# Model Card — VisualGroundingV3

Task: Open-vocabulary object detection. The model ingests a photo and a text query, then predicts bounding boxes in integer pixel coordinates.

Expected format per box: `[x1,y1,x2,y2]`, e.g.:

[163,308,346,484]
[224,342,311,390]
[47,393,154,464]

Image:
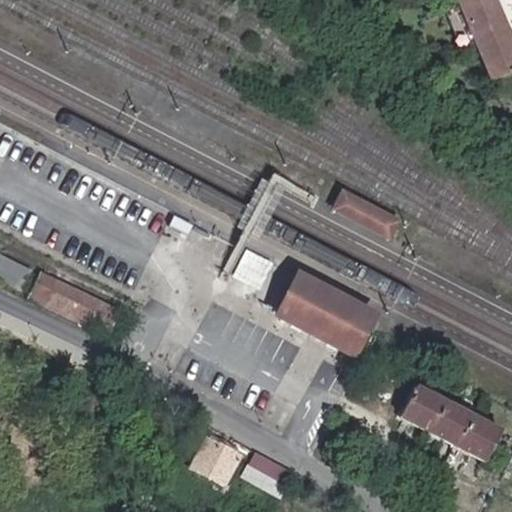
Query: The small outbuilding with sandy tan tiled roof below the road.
[189,436,246,490]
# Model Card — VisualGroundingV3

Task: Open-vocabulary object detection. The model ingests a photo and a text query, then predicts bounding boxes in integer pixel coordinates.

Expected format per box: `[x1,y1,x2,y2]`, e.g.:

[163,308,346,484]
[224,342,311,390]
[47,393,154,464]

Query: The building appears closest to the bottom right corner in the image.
[400,384,503,463]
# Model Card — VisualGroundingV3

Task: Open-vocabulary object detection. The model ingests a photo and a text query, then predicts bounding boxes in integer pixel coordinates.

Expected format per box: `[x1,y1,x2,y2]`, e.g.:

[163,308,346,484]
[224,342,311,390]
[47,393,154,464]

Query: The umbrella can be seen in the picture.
[456,34,470,48]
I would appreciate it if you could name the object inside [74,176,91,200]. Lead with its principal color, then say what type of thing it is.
white car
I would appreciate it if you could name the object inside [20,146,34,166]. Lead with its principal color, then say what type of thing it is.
gray car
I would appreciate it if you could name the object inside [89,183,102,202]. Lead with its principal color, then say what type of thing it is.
white vehicle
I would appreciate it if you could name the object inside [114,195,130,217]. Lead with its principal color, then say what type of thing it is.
white car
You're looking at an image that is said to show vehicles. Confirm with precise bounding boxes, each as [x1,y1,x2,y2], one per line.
[222,377,236,398]
[138,206,152,226]
[113,261,128,282]
[88,247,105,272]
[126,200,141,222]
[0,202,14,223]
[60,168,78,195]
[89,183,102,202]
[186,360,200,382]
[114,195,130,217]
[74,176,91,200]
[8,142,23,161]
[211,372,225,392]
[22,214,40,238]
[149,212,165,234]
[102,256,117,278]
[100,189,116,212]
[11,210,26,231]
[256,390,270,410]
[244,384,260,410]
[30,152,46,174]
[0,134,13,158]
[124,268,138,288]
[48,163,62,184]
[64,236,80,258]
[20,146,34,166]
[76,242,91,264]
[46,230,60,248]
